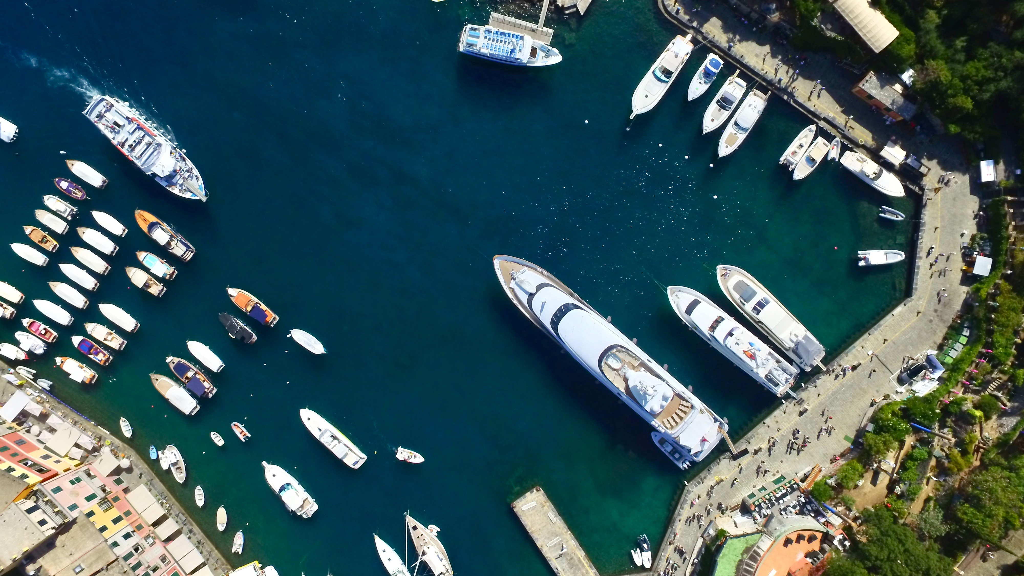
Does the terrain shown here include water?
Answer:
Yes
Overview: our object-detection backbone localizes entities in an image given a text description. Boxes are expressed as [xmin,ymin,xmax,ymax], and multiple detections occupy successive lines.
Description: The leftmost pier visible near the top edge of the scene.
[489,0,554,45]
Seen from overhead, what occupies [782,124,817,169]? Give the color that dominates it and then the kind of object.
white boat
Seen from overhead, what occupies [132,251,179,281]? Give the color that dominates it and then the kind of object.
white boat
